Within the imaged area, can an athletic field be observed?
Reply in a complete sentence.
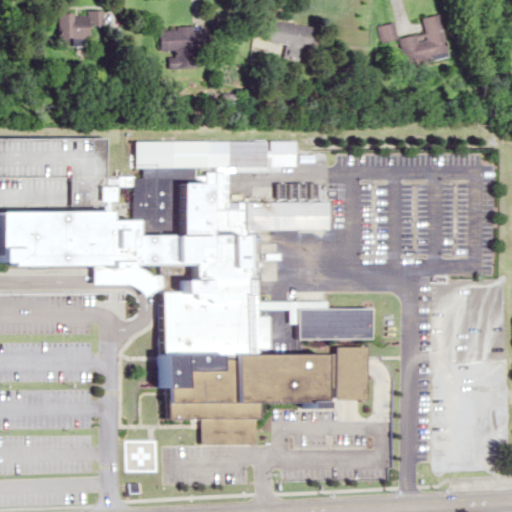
No, I find no athletic field anywhere in the image.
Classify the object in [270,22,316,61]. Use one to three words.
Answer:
house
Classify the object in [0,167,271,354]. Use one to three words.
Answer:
building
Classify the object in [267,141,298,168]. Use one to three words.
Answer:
building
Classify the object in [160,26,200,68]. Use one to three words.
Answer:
house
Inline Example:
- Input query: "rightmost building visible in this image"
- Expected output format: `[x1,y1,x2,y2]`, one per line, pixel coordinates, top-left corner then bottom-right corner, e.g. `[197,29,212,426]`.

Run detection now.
[400,14,450,64]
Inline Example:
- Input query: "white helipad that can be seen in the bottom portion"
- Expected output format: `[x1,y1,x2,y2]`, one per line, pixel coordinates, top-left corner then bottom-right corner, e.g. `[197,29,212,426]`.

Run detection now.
[122,438,158,474]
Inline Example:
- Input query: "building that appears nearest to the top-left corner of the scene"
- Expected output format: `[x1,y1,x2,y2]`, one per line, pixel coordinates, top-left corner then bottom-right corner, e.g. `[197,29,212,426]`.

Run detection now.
[58,11,103,46]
